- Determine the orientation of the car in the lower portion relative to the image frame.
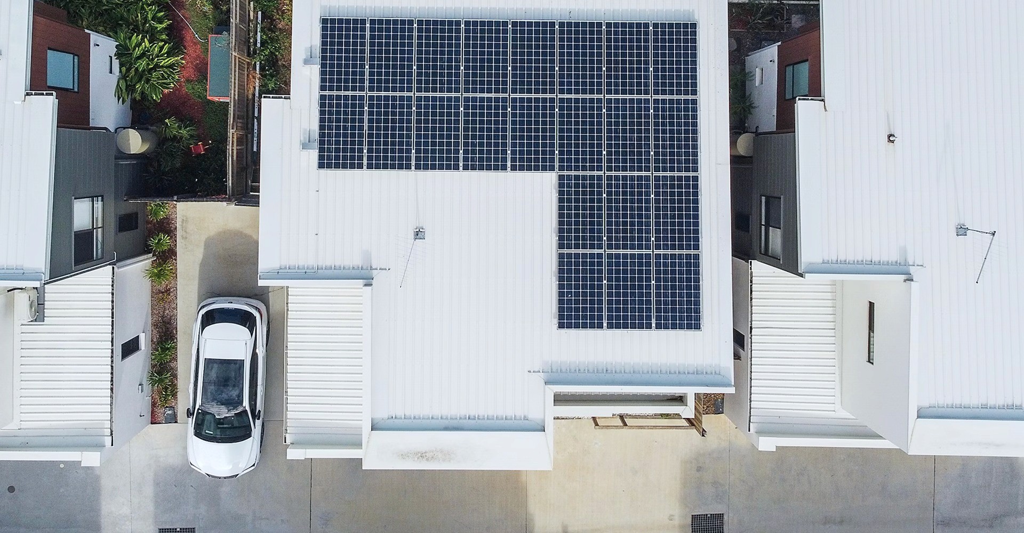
up and down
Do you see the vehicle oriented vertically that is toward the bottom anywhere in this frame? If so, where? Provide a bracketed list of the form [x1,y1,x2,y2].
[188,295,271,476]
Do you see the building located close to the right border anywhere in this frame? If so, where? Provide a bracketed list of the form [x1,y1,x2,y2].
[723,0,1024,457]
